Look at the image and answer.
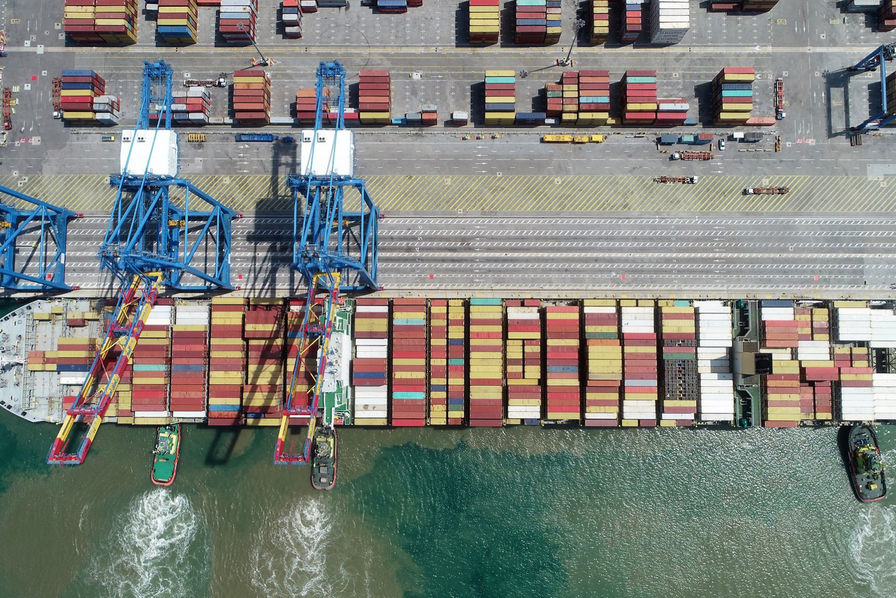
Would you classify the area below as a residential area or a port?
port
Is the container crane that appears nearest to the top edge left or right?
right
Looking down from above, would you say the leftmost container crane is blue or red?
blue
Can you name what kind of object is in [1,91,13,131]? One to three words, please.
vehicle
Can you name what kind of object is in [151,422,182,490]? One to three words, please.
boat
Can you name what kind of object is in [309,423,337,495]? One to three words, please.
boat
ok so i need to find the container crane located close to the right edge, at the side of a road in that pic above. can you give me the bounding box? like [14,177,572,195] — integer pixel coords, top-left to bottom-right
[846,45,896,133]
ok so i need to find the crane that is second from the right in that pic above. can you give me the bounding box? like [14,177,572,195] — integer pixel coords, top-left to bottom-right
[273,60,384,465]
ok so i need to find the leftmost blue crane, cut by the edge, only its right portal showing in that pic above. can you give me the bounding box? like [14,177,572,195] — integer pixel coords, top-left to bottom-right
[0,181,87,290]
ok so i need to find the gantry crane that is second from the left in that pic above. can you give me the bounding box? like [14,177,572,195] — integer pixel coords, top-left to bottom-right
[46,59,244,465]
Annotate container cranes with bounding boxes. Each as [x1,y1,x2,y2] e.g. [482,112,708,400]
[273,60,384,465]
[846,45,896,133]
[0,181,87,290]
[46,59,244,465]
